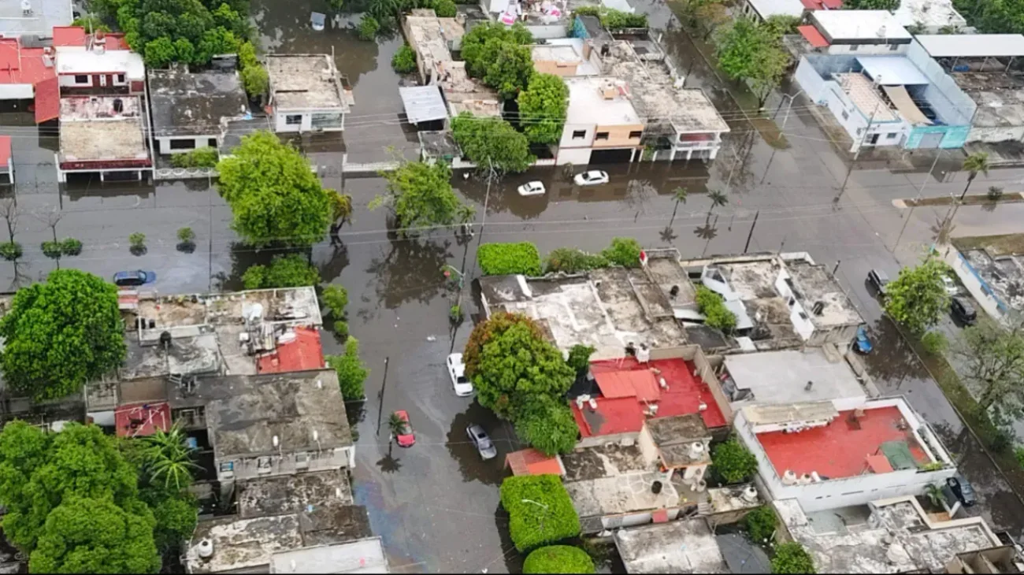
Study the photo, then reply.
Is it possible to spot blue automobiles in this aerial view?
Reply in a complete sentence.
Yes, I can see a blue automobile in this picture.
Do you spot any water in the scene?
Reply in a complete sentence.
Yes, water shows up in the scene.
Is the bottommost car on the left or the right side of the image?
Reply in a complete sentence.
You can find the bottommost car on the right side of the picture.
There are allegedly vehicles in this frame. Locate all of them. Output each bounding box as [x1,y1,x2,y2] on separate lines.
[856,329,875,356]
[948,472,980,509]
[393,412,417,445]
[513,178,550,195]
[113,267,158,284]
[465,421,498,459]
[310,10,325,29]
[574,169,610,184]
[72,0,83,19]
[866,266,895,297]
[948,293,978,324]
[448,357,472,392]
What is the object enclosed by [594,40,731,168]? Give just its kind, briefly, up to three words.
house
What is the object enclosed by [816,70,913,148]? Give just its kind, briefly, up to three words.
house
